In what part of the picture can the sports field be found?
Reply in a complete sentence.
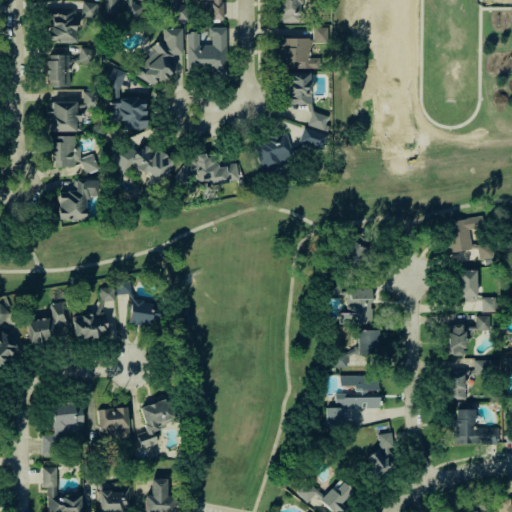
You can find the sports field in the top right area of the picture.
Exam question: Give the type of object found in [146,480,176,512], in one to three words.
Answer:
house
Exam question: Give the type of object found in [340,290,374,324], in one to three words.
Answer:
house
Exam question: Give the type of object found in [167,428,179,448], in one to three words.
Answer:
swimming pool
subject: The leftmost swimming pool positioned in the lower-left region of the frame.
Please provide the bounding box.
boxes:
[58,477,80,492]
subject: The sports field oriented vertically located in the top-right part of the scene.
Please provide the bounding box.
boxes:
[420,0,482,128]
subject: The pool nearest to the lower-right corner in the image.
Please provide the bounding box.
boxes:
[479,406,497,426]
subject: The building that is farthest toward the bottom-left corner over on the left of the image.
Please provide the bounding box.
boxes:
[42,468,84,512]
